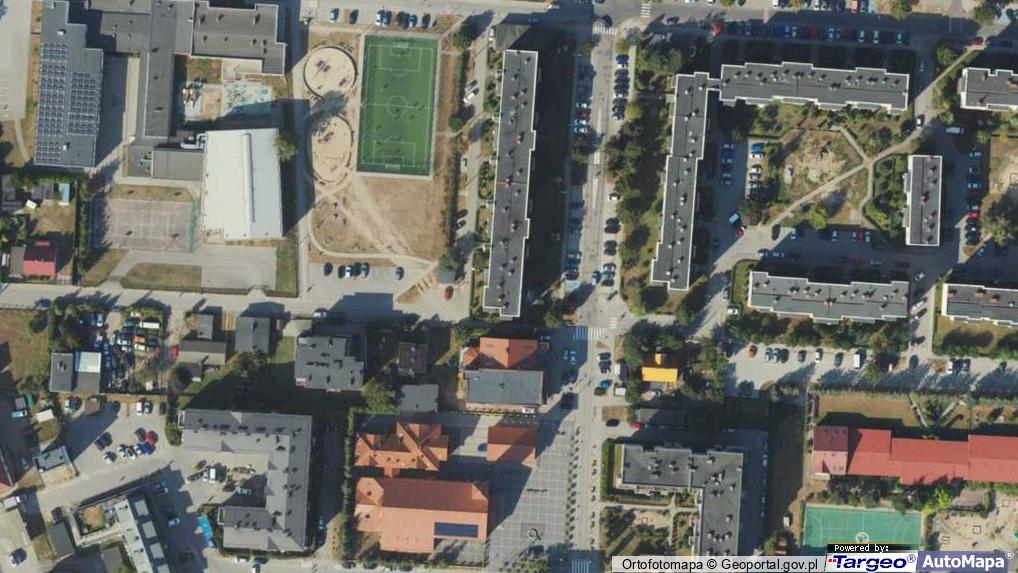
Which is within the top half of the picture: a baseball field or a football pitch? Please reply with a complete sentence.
Looking within the top half of the picture, you will find a football pitch.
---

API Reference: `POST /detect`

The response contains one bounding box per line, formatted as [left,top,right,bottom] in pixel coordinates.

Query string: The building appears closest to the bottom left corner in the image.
[0,507,32,557]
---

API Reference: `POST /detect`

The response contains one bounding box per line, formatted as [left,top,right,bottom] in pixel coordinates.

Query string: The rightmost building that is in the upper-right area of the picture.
[955,68,1018,112]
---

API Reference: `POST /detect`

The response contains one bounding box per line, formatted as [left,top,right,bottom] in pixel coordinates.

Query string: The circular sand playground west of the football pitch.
[304,46,356,98]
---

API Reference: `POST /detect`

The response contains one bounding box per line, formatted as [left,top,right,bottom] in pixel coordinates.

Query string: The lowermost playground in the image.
[309,114,353,184]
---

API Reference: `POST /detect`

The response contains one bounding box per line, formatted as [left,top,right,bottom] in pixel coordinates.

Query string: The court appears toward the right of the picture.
[797,503,924,573]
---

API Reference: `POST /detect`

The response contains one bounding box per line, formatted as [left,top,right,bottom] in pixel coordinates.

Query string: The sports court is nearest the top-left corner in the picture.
[97,199,191,250]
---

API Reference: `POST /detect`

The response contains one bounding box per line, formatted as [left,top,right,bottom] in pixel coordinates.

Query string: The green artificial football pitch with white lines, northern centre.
[353,31,442,179]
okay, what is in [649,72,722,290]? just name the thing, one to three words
building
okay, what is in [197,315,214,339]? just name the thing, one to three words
shed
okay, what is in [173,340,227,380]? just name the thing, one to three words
house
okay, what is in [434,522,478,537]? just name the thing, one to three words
solar array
